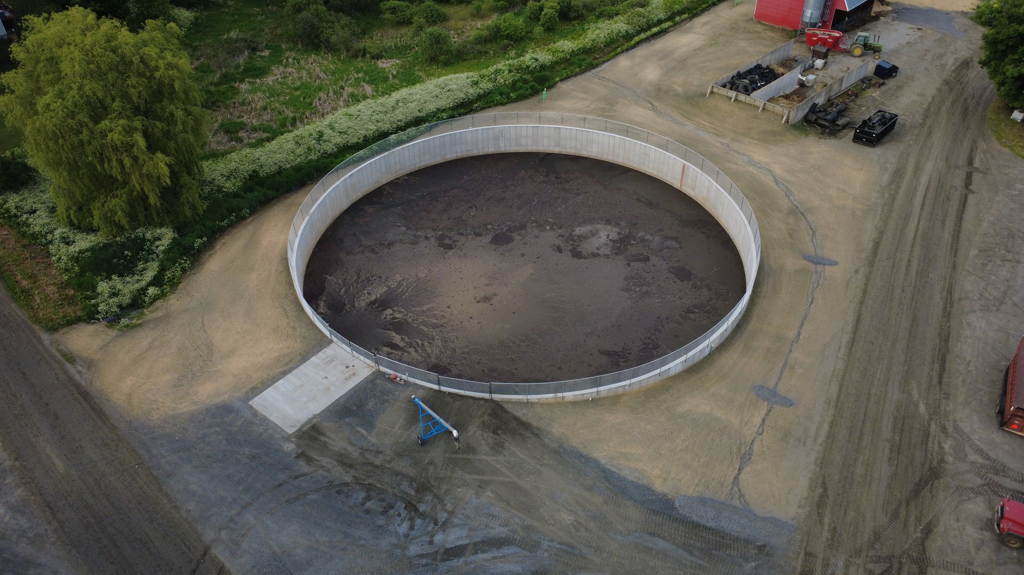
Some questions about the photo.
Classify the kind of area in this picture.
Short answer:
industrial area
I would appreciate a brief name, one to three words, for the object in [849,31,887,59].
work vehicle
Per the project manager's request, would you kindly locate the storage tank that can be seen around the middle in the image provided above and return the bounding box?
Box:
[293,124,757,406]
